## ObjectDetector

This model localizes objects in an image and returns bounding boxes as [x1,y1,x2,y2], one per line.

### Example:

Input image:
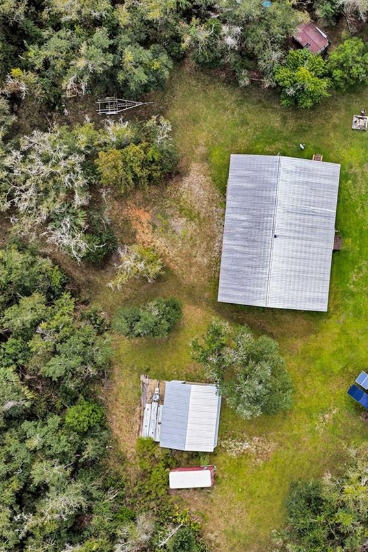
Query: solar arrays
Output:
[348,385,368,409]
[356,371,368,391]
